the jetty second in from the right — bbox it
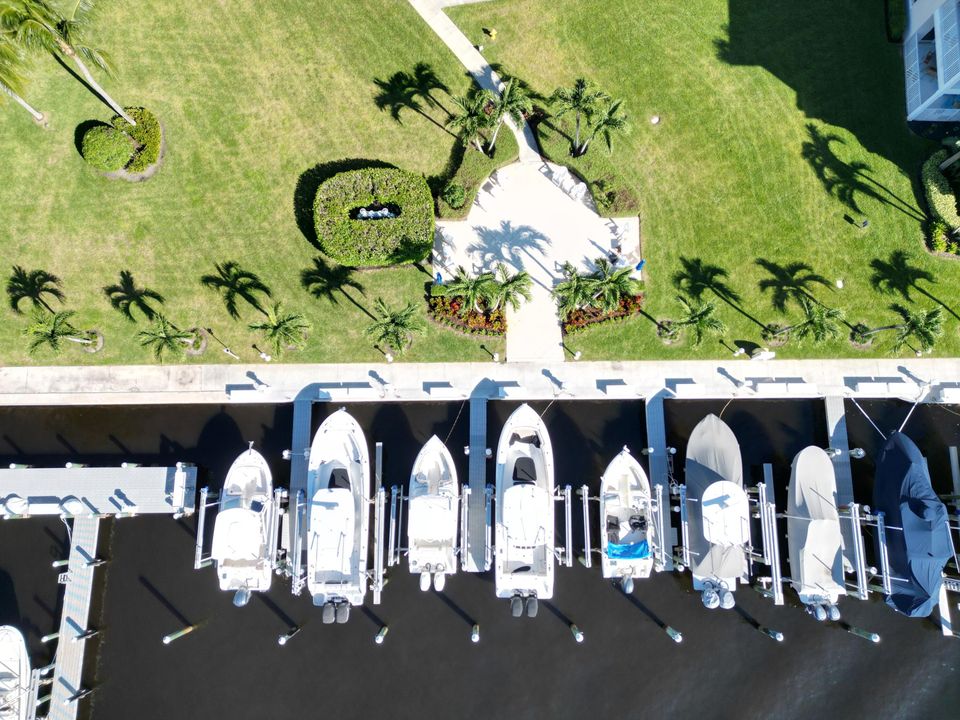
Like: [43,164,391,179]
[645,398,680,572]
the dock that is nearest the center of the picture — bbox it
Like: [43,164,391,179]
[468,398,488,573]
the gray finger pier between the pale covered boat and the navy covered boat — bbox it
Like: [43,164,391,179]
[824,397,861,594]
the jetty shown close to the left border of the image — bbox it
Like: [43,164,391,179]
[0,467,198,516]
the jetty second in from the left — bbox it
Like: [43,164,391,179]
[287,400,312,578]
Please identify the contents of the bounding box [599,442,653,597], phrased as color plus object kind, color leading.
white boat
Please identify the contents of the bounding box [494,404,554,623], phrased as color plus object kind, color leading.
white boat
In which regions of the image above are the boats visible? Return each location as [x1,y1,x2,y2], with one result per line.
[218,441,277,607]
[0,626,35,720]
[599,442,653,597]
[408,435,460,593]
[494,404,554,623]
[684,413,754,608]
[867,432,960,622]
[308,402,369,626]
[781,445,848,623]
